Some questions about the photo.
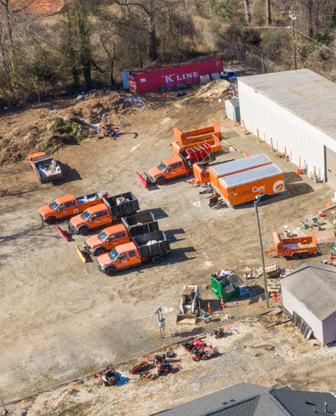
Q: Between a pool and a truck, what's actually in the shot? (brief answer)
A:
truck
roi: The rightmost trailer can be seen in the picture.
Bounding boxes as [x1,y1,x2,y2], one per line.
[265,233,317,259]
